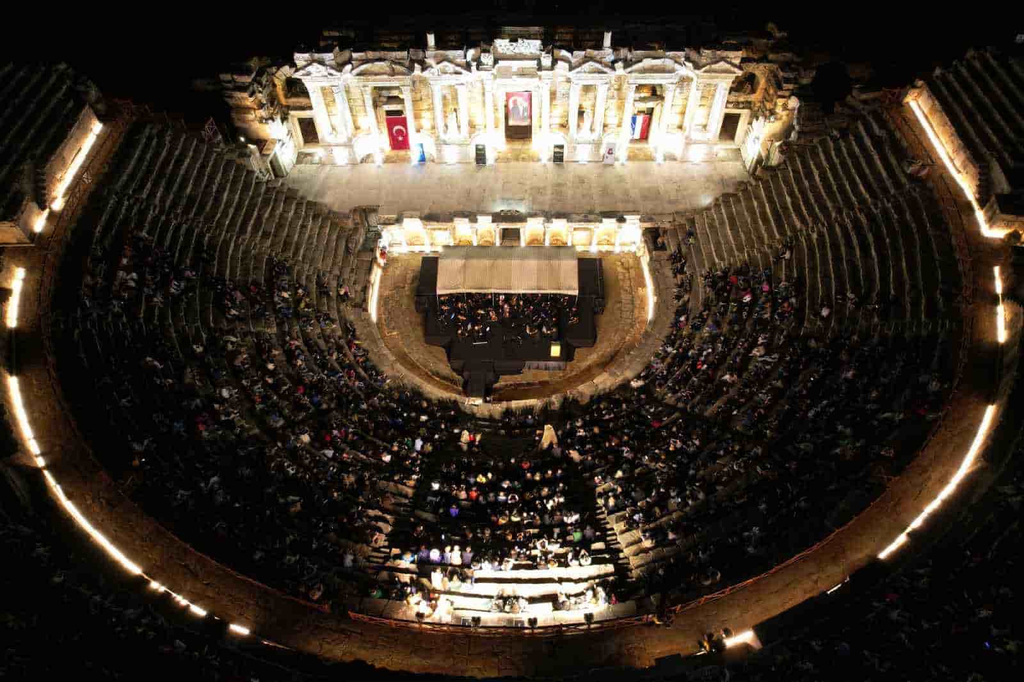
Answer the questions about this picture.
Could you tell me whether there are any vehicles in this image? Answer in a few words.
No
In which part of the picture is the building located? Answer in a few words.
top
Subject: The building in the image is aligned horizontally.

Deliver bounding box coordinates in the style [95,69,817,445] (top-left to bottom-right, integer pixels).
[279,15,757,161]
